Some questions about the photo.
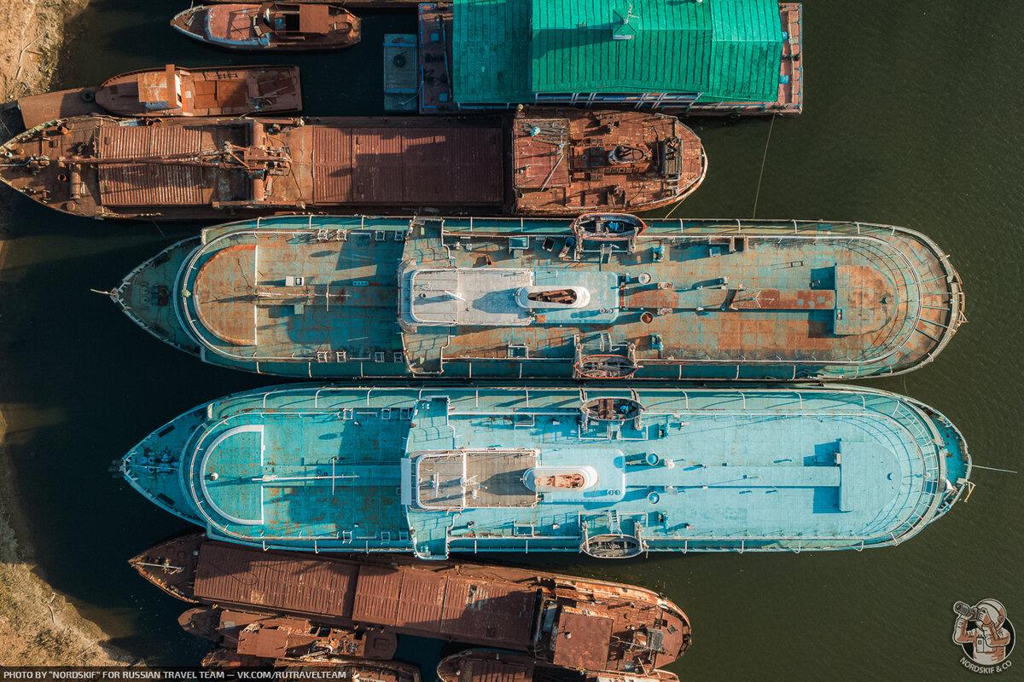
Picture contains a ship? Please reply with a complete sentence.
Yes, the image includes a ship.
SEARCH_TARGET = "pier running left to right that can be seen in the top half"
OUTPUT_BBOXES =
[18,86,125,128]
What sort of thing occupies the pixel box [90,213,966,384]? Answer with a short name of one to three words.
ship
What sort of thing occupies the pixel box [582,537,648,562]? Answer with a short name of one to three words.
boat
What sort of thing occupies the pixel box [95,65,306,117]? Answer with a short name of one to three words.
boat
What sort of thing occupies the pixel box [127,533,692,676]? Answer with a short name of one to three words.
ship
